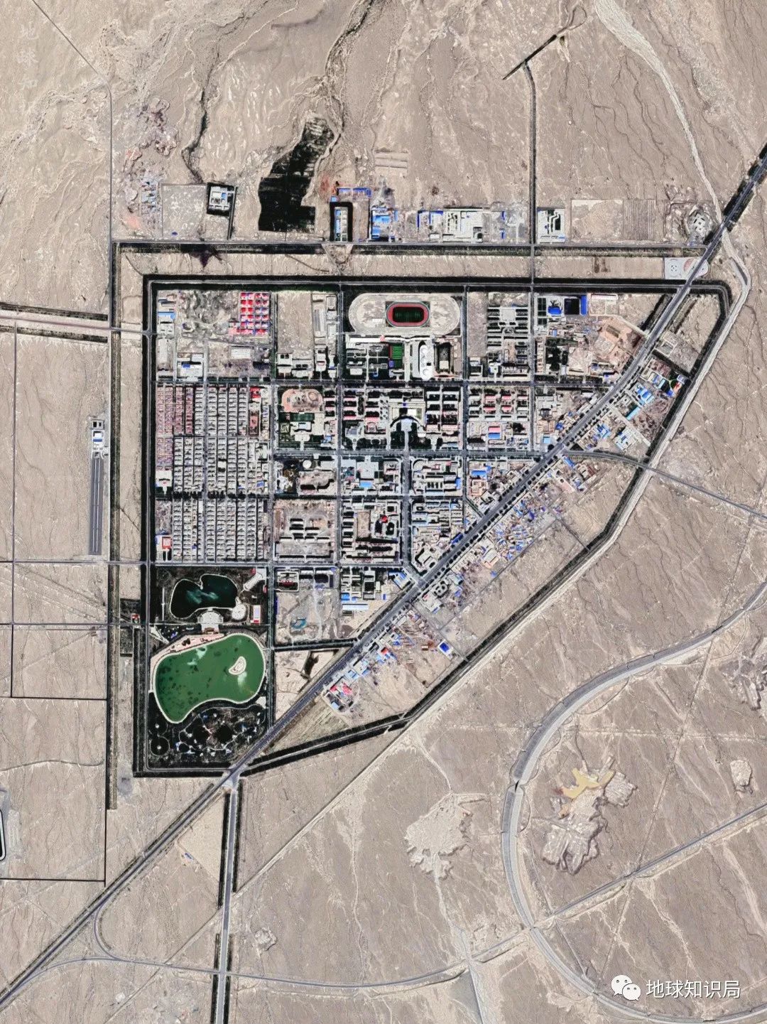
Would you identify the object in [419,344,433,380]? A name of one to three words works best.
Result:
building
